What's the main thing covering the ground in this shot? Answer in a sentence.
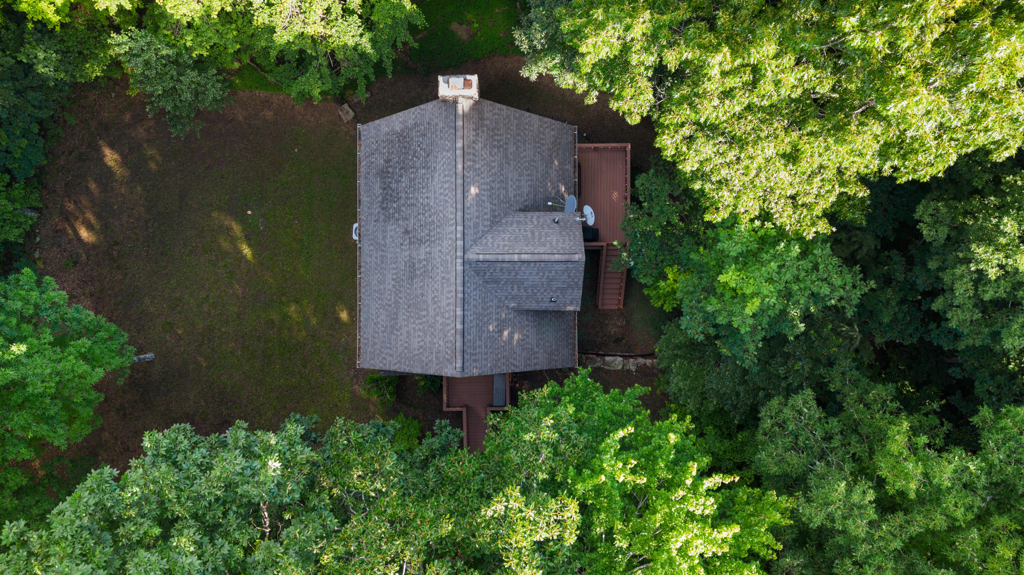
The largest share of the image is taken up by trees.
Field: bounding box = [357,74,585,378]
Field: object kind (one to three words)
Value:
house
